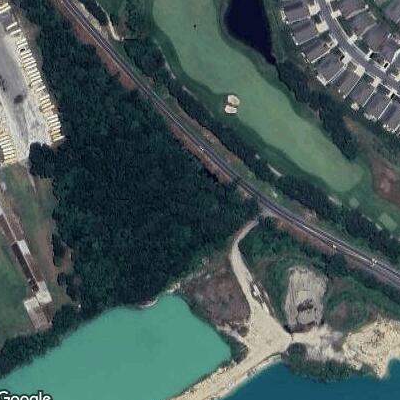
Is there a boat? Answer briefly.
No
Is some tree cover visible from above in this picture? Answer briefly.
Yes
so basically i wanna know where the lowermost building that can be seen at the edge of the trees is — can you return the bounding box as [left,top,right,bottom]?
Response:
[25,298,48,327]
